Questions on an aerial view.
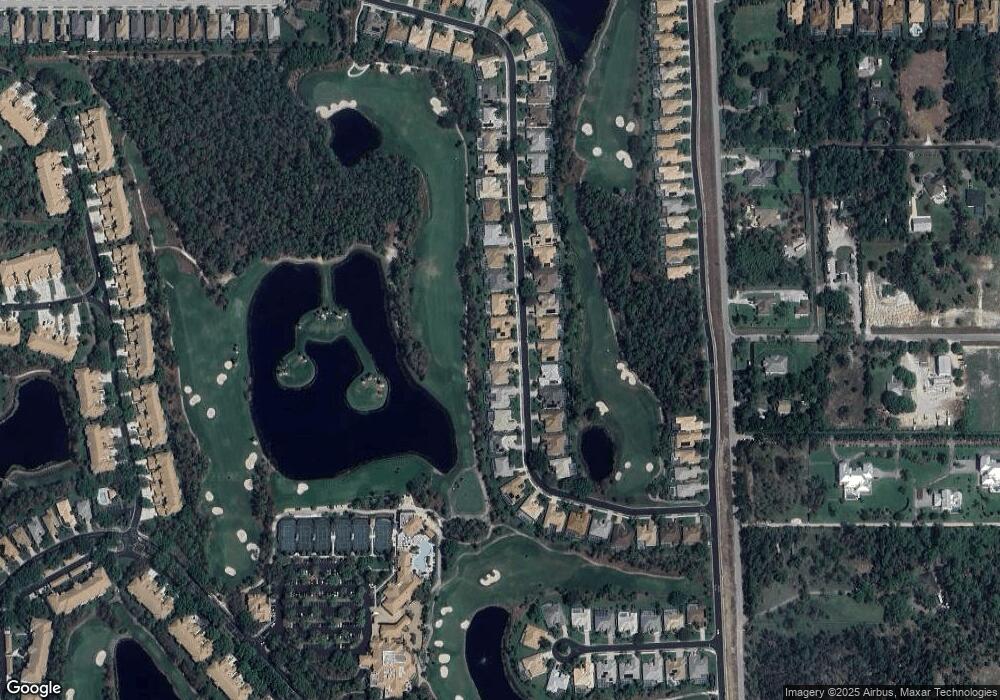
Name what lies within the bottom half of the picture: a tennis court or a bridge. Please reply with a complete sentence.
It is a tennis court that can be seen within the bottom half of the picture.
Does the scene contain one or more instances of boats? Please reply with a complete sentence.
No, no boat is visible in the scene.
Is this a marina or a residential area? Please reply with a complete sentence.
What you see here is a residential area.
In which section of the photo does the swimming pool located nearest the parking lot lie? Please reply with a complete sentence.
The swimming pool located nearest the parking lot is located in the bottom region of the scene.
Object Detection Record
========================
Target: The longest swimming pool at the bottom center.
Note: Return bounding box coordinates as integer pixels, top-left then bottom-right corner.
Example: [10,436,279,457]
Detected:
[411,535,435,574]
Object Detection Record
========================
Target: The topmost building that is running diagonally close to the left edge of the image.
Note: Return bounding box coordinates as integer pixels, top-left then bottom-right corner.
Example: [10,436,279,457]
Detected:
[0,85,52,147]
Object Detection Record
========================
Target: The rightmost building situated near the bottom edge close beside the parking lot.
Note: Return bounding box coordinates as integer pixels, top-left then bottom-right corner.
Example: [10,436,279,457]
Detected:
[357,549,421,698]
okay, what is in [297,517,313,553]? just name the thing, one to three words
tennis court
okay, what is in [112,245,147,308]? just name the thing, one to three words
building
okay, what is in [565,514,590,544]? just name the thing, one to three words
house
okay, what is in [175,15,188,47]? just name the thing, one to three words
house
